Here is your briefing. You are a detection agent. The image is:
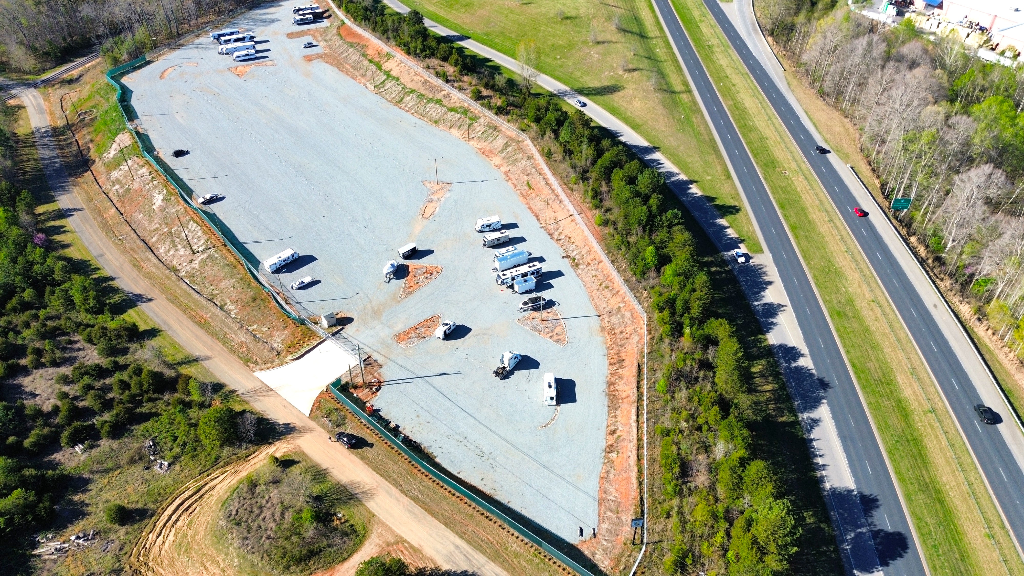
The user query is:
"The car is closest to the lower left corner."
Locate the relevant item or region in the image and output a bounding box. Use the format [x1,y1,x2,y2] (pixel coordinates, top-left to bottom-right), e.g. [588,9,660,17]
[334,430,355,448]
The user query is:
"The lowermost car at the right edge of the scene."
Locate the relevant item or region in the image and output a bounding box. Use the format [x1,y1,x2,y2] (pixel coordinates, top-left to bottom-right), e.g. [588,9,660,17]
[977,403,996,422]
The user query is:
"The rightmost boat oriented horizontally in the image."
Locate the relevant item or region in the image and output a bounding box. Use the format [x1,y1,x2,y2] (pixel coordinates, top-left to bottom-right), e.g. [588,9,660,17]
[517,294,550,308]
